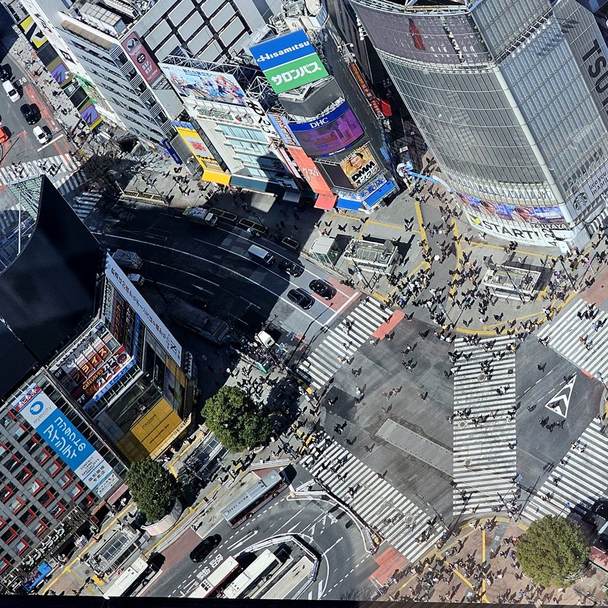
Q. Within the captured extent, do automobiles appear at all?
Yes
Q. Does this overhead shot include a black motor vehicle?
Yes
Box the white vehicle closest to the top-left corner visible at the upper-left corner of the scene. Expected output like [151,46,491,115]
[2,81,18,102]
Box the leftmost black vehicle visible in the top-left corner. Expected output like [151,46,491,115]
[0,61,12,81]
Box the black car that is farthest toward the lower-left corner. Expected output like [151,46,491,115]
[188,533,222,562]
